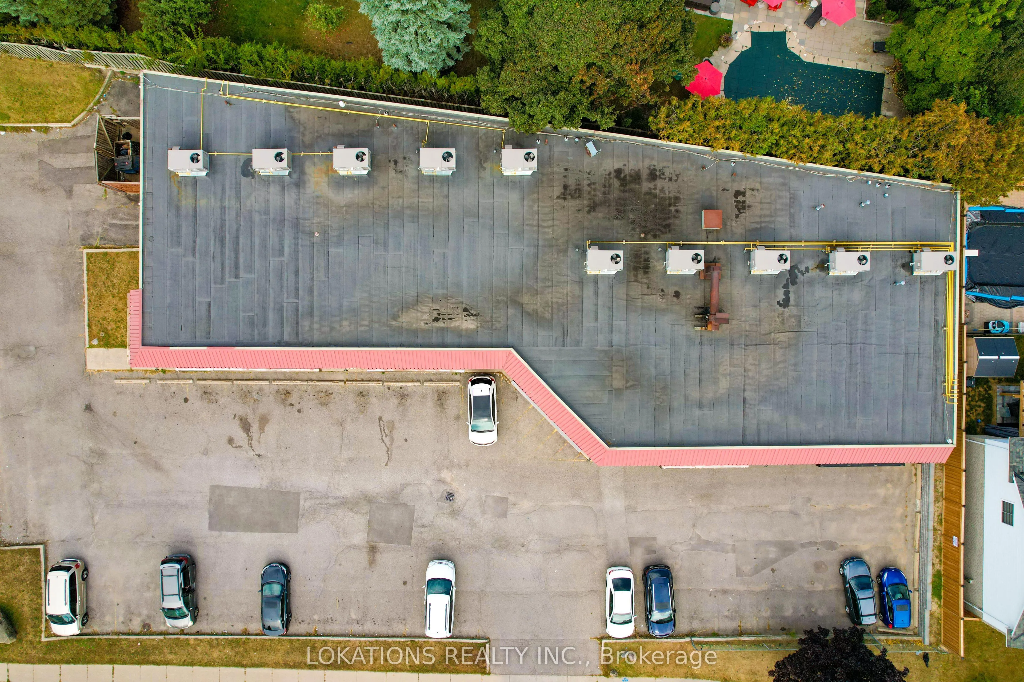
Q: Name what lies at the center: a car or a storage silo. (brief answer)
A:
car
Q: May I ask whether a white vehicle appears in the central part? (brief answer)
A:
Yes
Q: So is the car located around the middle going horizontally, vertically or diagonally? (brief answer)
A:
vertically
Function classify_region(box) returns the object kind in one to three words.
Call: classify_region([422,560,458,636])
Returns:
car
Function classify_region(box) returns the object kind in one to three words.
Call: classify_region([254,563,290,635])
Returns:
car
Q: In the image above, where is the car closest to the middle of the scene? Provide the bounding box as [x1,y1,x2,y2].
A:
[464,374,500,447]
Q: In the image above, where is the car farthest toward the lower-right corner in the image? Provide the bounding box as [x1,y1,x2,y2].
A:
[877,567,916,628]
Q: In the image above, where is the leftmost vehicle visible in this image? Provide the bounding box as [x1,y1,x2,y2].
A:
[41,558,88,637]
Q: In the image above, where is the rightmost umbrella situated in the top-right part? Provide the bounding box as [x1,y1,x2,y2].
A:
[822,0,856,25]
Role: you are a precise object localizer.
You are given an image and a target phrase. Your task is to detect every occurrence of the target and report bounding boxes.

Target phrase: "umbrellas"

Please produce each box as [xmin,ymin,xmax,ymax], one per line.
[685,63,723,97]
[822,0,856,25]
[755,0,789,11]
